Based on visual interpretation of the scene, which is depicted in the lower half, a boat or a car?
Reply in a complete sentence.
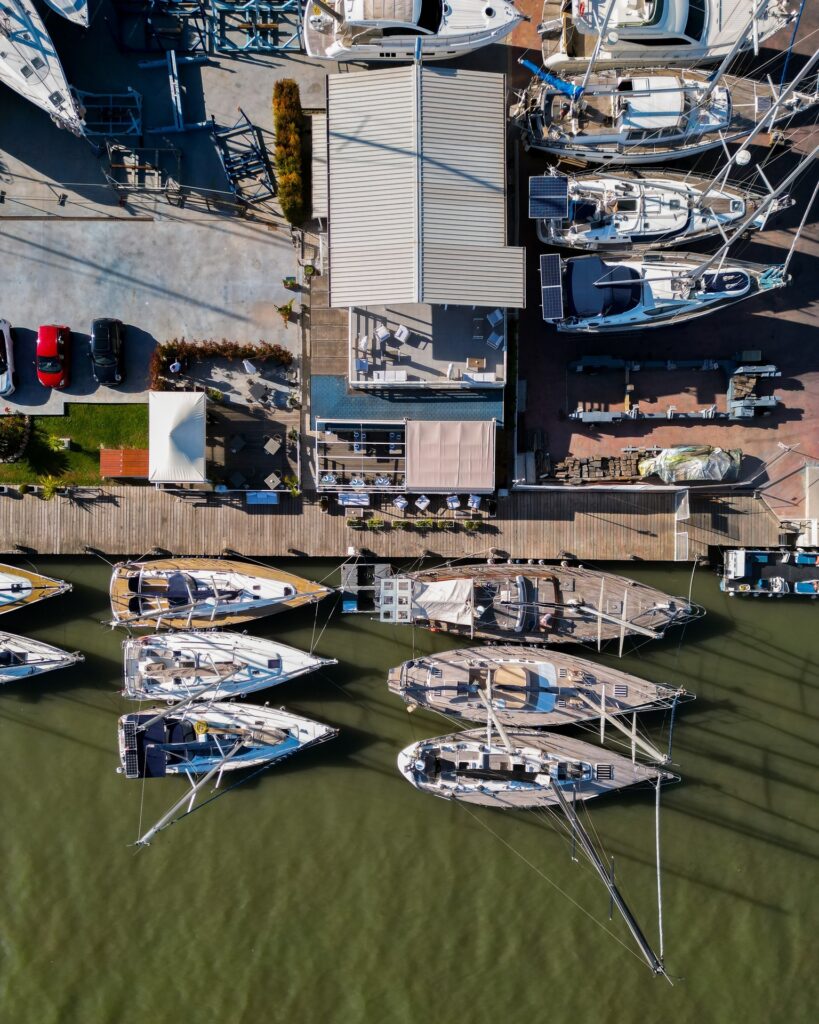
The feature located in the lower half is a boat.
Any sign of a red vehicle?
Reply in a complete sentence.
Yes, you can see a red vehicle in this photo.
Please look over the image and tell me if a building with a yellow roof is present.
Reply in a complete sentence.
No, this view has no building with a yellow roof in it.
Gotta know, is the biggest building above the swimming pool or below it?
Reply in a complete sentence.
Relative to the swimming pool, the biggest building lies above it.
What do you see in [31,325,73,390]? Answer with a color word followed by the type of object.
red car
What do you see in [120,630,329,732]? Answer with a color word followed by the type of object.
white boat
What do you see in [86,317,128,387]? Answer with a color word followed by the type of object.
black car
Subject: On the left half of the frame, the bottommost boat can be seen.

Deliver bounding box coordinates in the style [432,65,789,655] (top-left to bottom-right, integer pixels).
[115,702,339,851]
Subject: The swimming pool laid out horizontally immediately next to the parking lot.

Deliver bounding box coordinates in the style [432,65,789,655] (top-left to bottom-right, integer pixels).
[308,376,505,437]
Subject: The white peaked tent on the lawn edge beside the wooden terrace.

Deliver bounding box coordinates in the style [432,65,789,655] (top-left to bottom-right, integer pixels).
[149,392,216,487]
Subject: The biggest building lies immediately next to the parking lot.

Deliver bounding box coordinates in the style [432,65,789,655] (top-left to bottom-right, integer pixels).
[313,66,528,390]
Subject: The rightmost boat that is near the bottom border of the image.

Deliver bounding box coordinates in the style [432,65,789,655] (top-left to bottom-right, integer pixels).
[398,725,679,988]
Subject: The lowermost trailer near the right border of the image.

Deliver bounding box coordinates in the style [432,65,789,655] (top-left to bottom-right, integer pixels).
[570,352,781,424]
